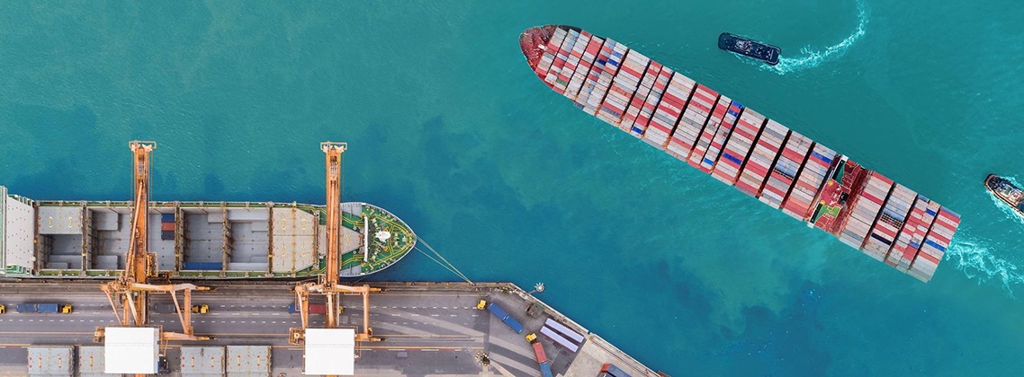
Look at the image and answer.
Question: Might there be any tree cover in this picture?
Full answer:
No, no tree cover is visible.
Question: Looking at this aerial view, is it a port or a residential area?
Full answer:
This looks like a port.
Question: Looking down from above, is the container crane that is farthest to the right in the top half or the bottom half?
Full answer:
It is in the bottom half that the container crane that is farthest to the right appears.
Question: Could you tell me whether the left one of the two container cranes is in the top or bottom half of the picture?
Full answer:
The bottom half of the photo is where the left one of the two container cranes is.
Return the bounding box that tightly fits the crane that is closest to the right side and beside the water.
[277,141,400,377]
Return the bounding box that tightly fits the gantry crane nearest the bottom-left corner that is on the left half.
[93,141,226,377]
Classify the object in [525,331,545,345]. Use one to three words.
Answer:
vehicle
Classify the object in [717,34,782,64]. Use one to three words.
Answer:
boat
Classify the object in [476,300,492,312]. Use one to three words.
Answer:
vehicle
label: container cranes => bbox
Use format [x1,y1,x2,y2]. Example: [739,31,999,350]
[277,141,400,377]
[93,141,226,377]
